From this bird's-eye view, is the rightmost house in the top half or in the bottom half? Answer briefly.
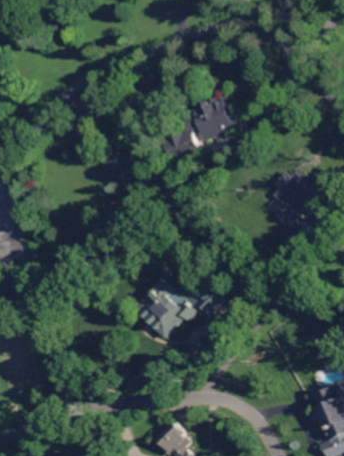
bottom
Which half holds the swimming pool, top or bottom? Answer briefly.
bottom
